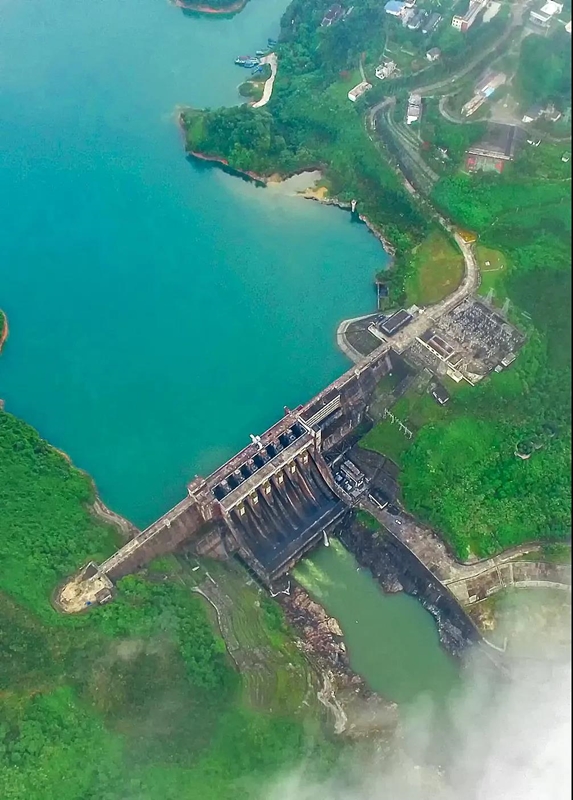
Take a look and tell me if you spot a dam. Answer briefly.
Yes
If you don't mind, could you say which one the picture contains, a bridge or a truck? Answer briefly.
bridge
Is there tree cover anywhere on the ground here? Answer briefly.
Yes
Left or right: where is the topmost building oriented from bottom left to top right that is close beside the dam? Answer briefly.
right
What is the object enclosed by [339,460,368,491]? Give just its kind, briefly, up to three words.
building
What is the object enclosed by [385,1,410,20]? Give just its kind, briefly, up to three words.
house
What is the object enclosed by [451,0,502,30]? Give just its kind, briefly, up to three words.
building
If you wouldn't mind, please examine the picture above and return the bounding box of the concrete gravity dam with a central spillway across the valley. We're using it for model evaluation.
[96,342,395,601]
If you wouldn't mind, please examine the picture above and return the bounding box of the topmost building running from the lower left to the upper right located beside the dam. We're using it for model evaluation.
[379,309,412,339]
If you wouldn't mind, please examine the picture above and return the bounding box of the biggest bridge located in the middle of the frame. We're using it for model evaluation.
[213,423,315,508]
